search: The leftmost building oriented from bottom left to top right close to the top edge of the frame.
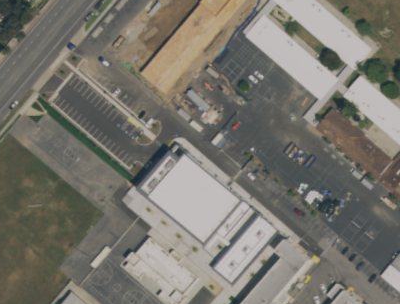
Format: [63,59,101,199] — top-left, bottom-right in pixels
[141,0,246,94]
